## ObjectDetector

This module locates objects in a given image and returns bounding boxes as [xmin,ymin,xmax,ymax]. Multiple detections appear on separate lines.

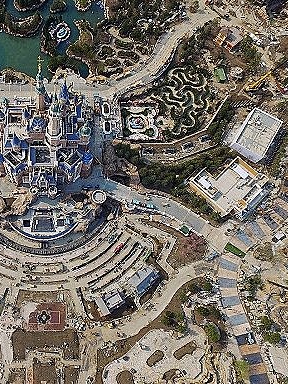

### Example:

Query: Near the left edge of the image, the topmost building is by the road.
[0,62,95,199]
